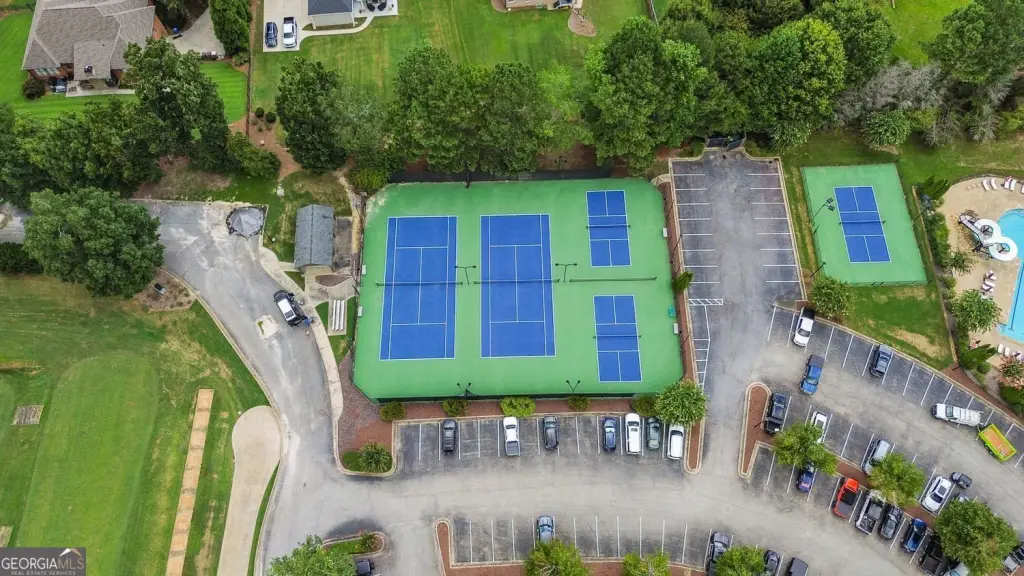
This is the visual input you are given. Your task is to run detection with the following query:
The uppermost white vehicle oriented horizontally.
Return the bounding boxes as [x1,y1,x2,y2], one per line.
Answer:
[930,404,988,428]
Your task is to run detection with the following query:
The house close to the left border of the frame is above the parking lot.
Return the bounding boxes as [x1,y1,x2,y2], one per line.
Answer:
[21,0,159,90]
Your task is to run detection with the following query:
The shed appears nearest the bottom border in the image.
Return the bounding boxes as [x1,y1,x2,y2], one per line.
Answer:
[293,204,334,265]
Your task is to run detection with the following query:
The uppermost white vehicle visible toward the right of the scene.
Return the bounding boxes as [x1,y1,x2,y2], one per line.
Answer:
[793,305,816,349]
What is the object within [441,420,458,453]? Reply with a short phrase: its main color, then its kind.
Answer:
gray car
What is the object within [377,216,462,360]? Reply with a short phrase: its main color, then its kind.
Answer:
blue tennis court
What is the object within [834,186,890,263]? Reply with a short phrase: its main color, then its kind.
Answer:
blue sports court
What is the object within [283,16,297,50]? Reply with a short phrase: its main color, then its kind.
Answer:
white vehicle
